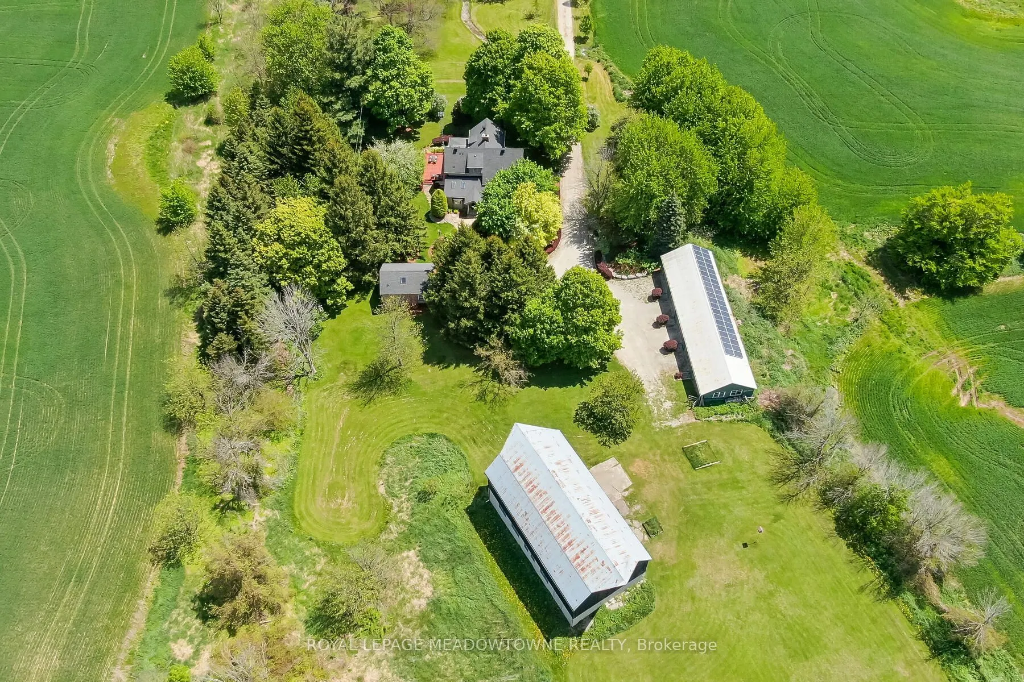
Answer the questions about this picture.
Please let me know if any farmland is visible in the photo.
Yes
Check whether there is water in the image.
No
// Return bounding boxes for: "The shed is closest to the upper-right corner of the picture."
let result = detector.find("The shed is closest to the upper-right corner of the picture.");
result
[660,243,758,406]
